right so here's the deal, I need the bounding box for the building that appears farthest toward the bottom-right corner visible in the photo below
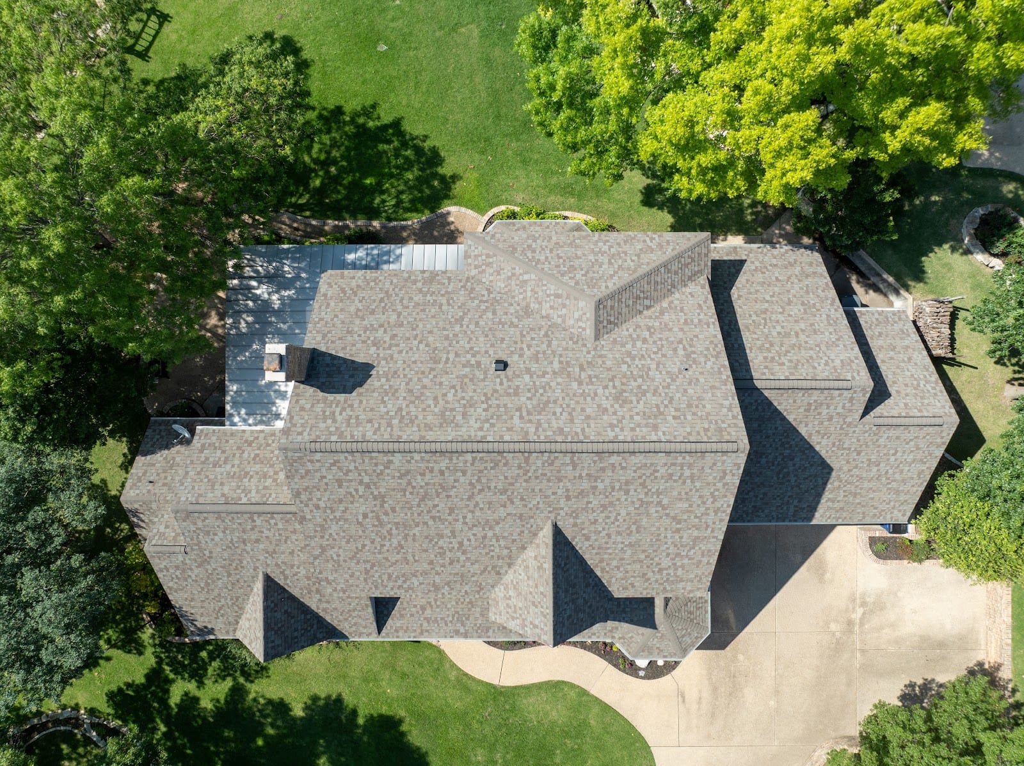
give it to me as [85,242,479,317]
[121,219,958,663]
